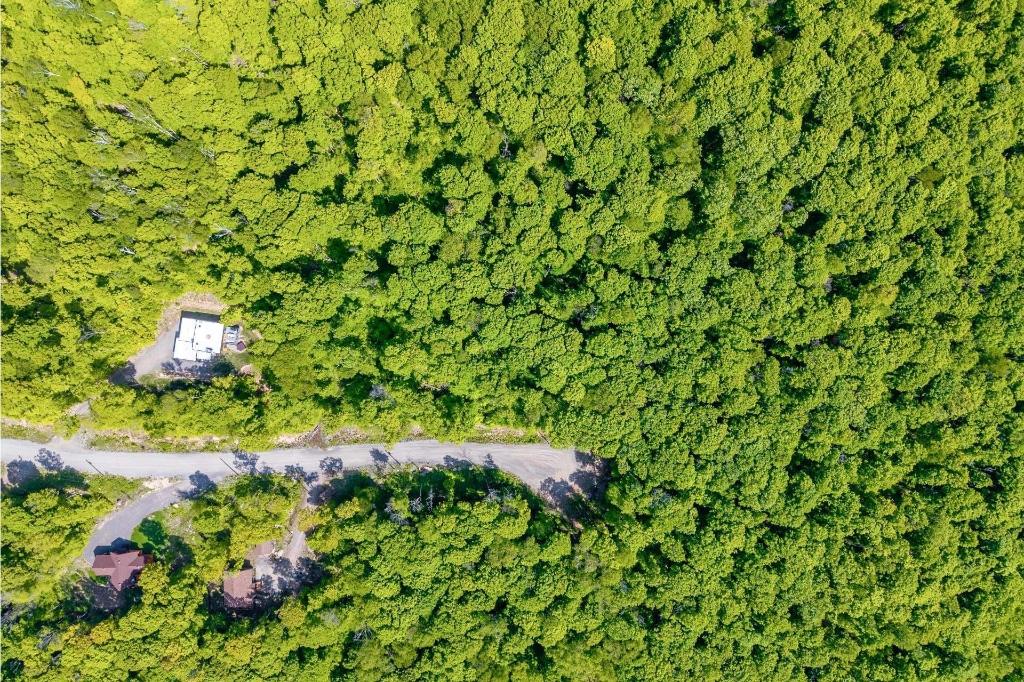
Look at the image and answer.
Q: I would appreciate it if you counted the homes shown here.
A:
3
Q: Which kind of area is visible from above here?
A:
forest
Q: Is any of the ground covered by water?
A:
No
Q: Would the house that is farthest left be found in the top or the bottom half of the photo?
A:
bottom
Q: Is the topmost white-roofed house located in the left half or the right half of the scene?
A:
left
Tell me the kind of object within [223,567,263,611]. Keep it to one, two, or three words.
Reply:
house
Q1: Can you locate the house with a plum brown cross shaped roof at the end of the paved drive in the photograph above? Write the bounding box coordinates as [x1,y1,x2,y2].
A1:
[92,549,154,591]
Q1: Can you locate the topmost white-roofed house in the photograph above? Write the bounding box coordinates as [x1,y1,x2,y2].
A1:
[173,318,230,361]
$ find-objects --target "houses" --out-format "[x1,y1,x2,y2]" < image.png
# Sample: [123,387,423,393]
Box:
[223,567,263,611]
[92,549,154,591]
[173,318,230,361]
